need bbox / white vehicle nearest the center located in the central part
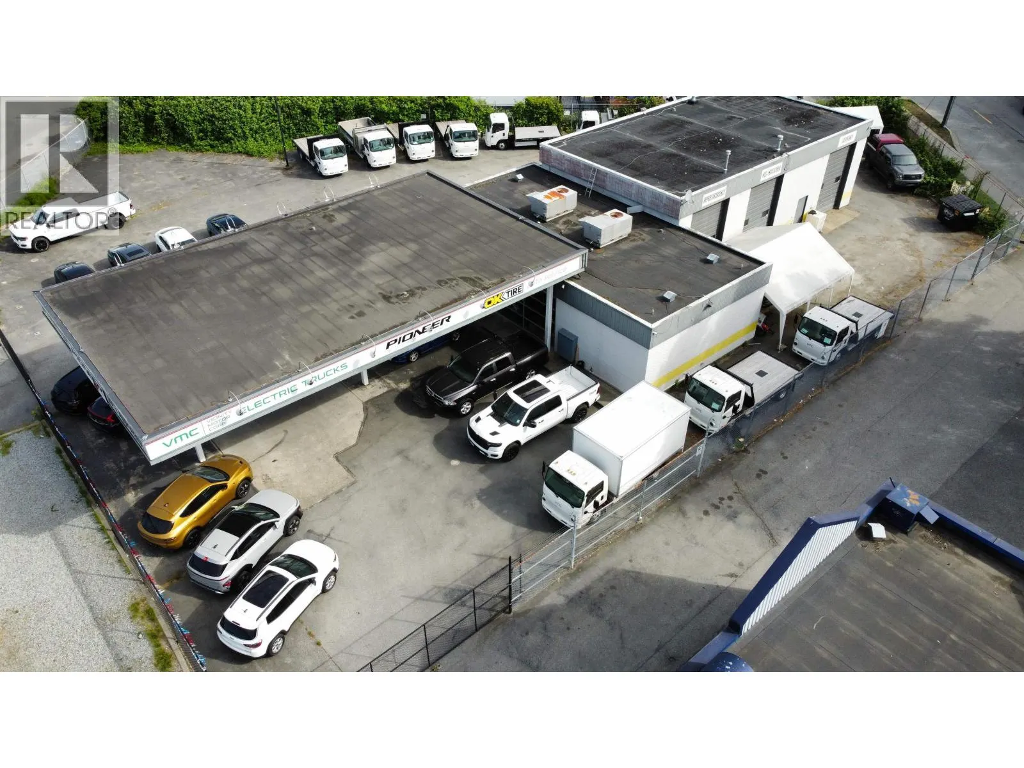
[458,364,602,463]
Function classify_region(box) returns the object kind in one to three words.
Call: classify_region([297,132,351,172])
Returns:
truck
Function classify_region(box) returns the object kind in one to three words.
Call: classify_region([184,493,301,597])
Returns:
car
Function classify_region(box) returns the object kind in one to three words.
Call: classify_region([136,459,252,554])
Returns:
car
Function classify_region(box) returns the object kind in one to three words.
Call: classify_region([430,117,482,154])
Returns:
truck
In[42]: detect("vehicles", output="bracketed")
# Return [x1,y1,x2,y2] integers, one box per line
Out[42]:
[458,364,602,463]
[51,258,96,286]
[136,459,252,554]
[297,132,351,172]
[392,326,466,361]
[483,115,557,151]
[795,296,895,363]
[684,351,803,432]
[92,394,127,430]
[861,135,923,188]
[160,229,201,251]
[216,545,338,664]
[573,110,612,136]
[184,493,301,597]
[51,360,102,412]
[430,117,482,154]
[4,194,136,251]
[344,113,401,163]
[108,243,153,269]
[415,328,549,416]
[543,382,694,527]
[389,118,438,156]
[208,213,249,238]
